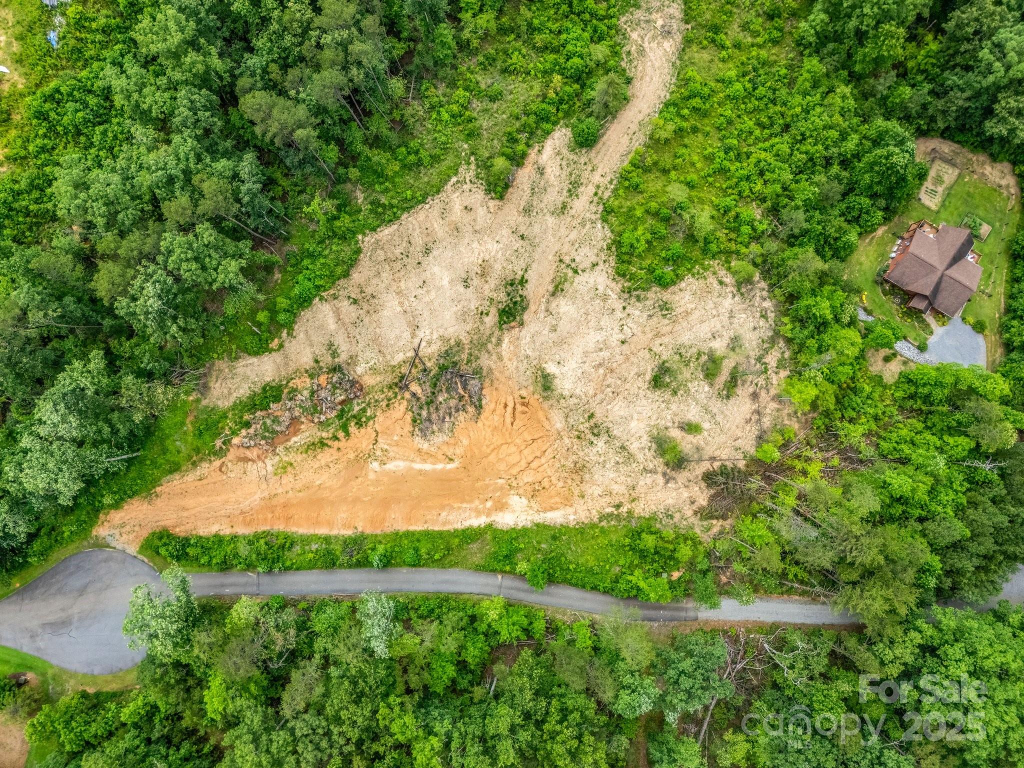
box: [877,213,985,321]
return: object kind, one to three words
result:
house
